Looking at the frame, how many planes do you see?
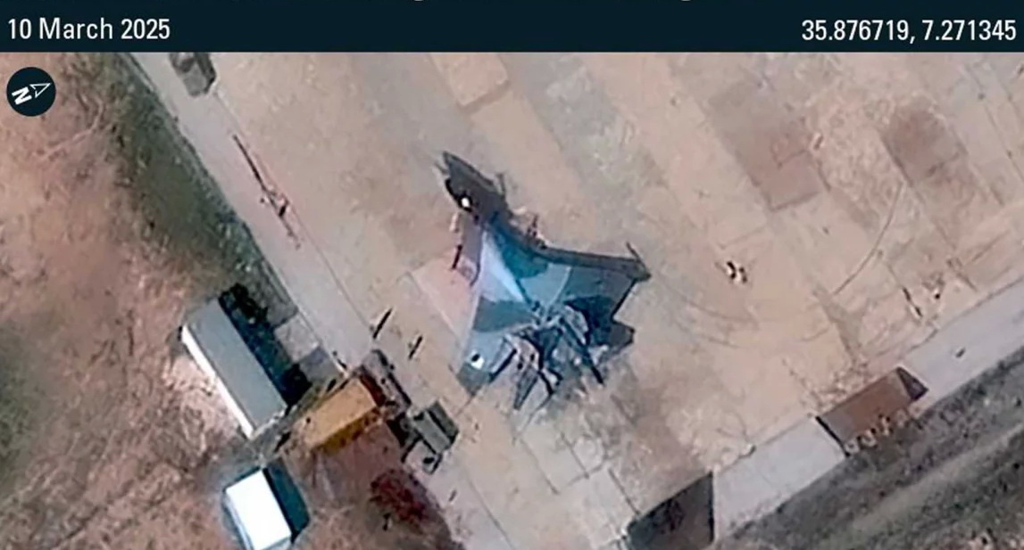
1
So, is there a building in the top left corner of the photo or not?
No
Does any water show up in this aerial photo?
No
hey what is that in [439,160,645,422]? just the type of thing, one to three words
airplane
